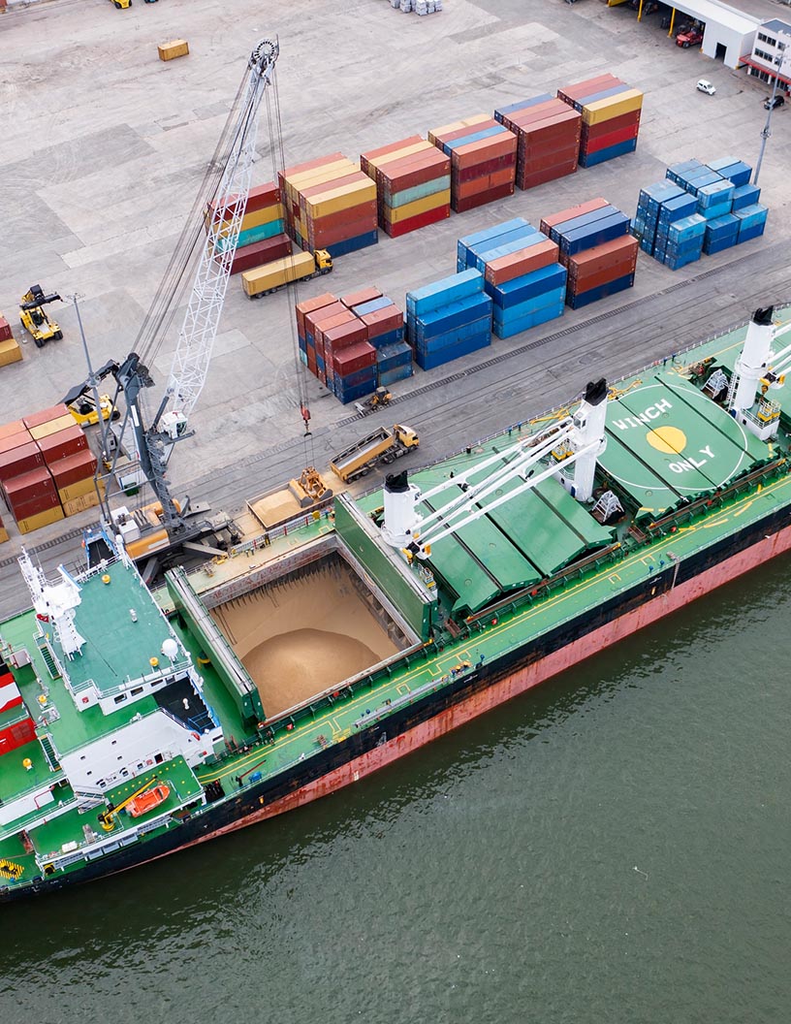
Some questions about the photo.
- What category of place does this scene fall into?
port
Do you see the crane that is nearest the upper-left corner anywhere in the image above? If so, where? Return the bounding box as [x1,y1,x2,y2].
[86,34,313,588]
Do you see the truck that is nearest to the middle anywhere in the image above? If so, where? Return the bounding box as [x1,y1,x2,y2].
[330,426,421,483]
